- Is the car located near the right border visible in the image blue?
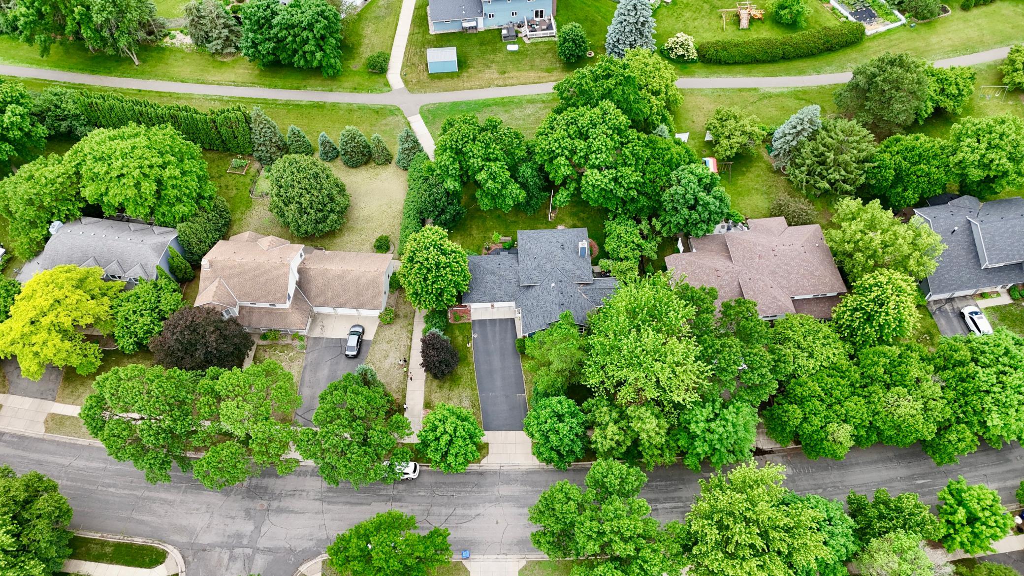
No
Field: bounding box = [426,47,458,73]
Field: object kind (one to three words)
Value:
shed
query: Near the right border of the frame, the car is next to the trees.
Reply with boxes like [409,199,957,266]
[964,307,995,338]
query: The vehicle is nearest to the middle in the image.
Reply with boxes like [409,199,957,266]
[343,325,364,358]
